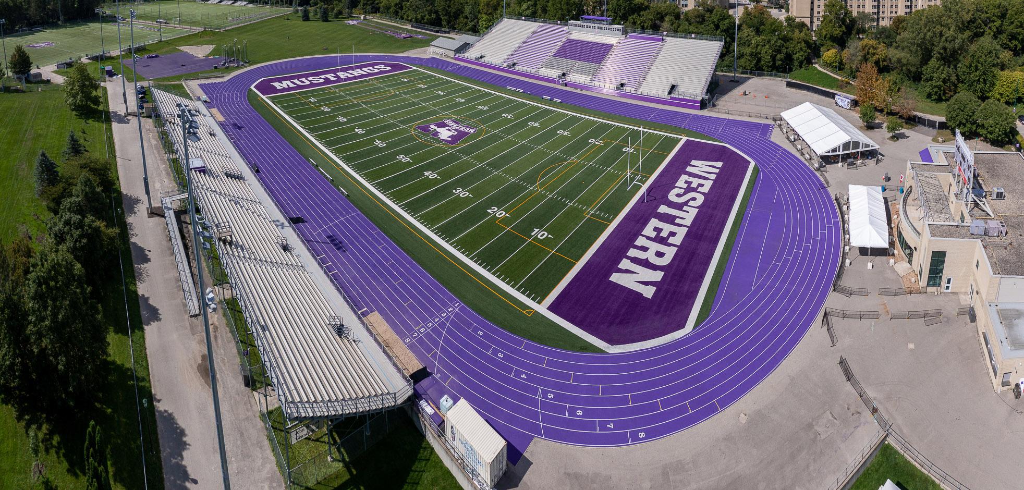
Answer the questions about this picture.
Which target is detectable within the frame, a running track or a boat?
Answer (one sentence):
Of the two, only a running track appears.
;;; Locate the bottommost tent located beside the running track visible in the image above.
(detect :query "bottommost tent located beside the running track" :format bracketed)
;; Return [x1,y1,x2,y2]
[845,177,893,262]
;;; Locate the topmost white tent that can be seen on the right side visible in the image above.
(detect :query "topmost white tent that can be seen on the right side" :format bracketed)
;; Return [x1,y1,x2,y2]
[779,102,880,169]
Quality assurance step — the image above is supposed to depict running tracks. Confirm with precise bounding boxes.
[217,54,842,445]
